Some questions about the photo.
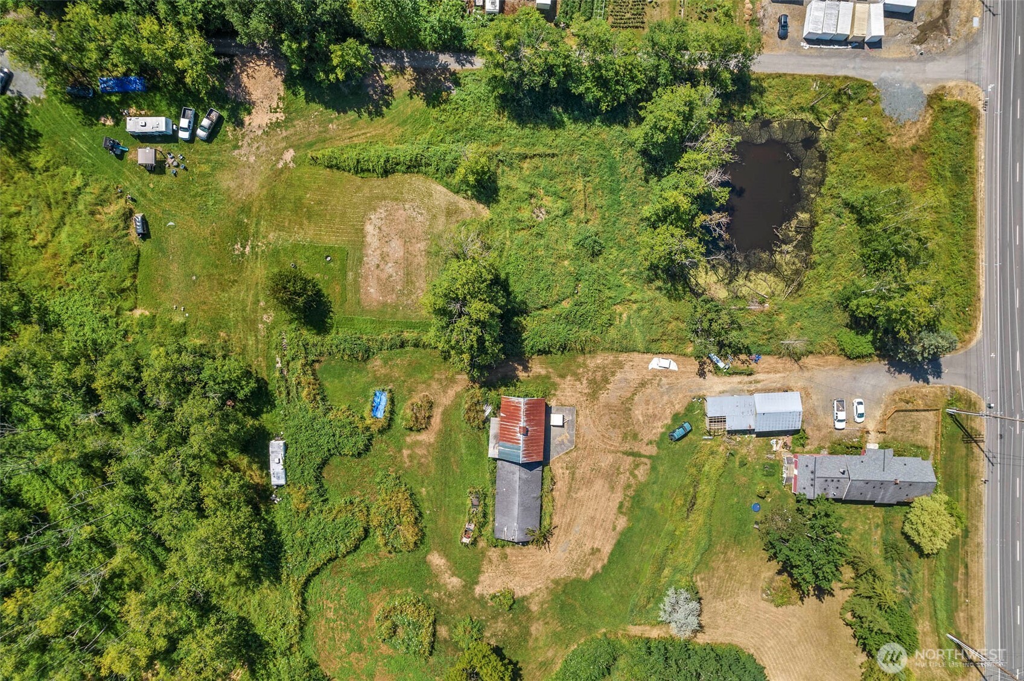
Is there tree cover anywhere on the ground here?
Yes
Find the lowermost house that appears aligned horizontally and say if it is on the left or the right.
right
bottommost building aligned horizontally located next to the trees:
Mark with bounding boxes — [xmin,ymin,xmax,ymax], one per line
[791,443,941,505]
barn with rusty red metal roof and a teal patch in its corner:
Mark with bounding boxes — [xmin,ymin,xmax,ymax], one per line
[500,397,548,463]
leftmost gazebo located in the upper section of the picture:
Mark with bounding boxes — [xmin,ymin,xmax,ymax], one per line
[133,147,156,165]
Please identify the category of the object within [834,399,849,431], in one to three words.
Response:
vehicle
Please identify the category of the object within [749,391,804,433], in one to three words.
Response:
shed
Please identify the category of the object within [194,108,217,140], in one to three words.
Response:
truck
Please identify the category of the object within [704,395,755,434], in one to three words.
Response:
shed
